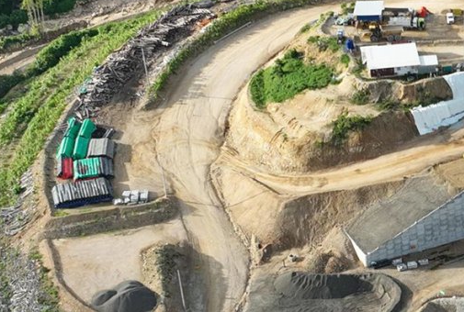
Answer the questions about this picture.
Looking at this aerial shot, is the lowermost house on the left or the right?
right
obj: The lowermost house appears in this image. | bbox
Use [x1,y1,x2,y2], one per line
[359,42,439,81]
